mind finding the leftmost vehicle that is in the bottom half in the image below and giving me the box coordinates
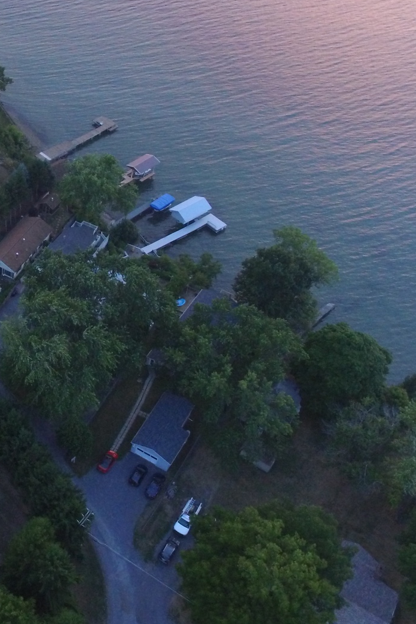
[99,450,119,474]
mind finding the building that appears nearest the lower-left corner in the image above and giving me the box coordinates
[131,394,191,474]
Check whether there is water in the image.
Yes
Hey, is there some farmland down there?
No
